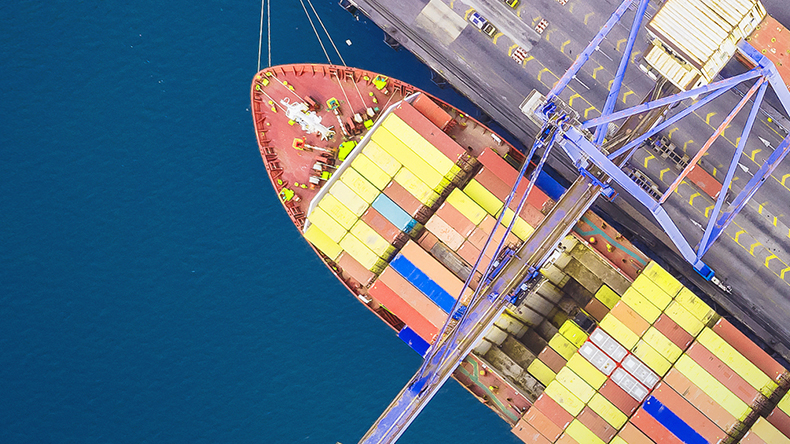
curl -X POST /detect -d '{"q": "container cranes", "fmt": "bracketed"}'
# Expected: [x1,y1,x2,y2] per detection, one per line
[355,0,790,444]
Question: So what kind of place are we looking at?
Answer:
port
